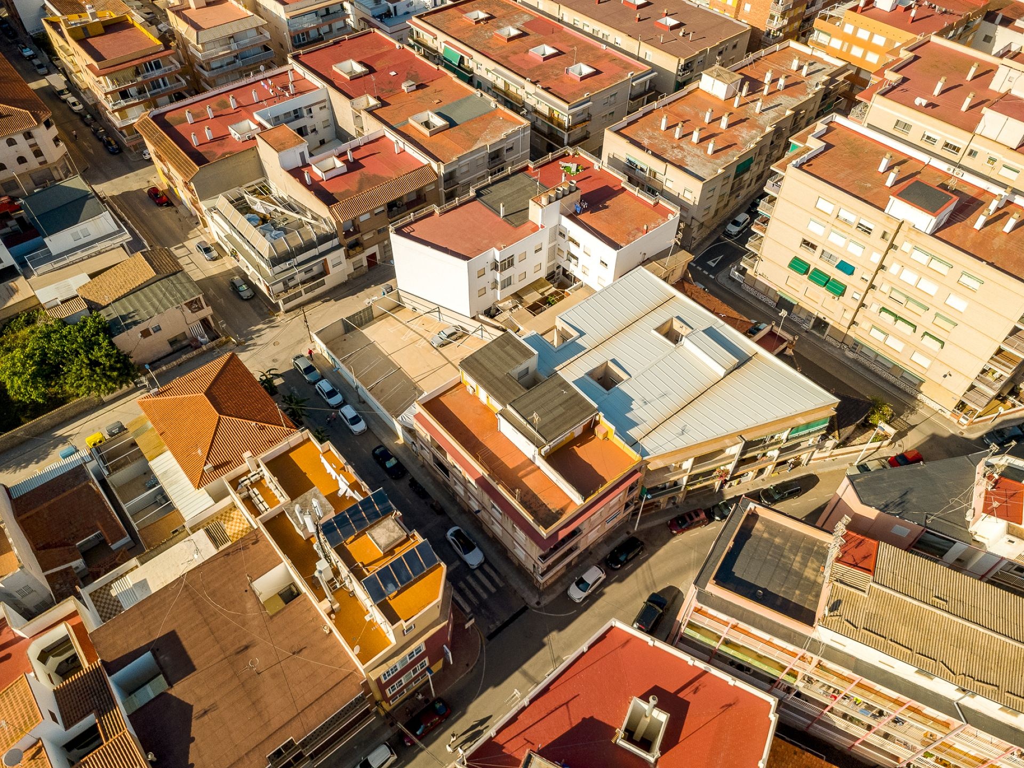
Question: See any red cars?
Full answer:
Yes, the photo shows a red car.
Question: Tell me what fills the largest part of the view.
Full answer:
The bulk of the photo consists of buildings.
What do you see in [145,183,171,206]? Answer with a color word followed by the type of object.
red car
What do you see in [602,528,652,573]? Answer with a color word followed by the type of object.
black car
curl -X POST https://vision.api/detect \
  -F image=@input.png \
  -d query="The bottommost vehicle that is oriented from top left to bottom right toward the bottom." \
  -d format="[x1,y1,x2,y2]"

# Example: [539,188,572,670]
[442,522,487,571]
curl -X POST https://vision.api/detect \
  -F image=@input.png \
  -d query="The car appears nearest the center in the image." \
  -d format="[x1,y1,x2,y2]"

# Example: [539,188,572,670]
[429,323,465,349]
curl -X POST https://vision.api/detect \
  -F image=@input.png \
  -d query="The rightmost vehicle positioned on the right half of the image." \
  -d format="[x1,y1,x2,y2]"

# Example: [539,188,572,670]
[980,418,1024,448]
